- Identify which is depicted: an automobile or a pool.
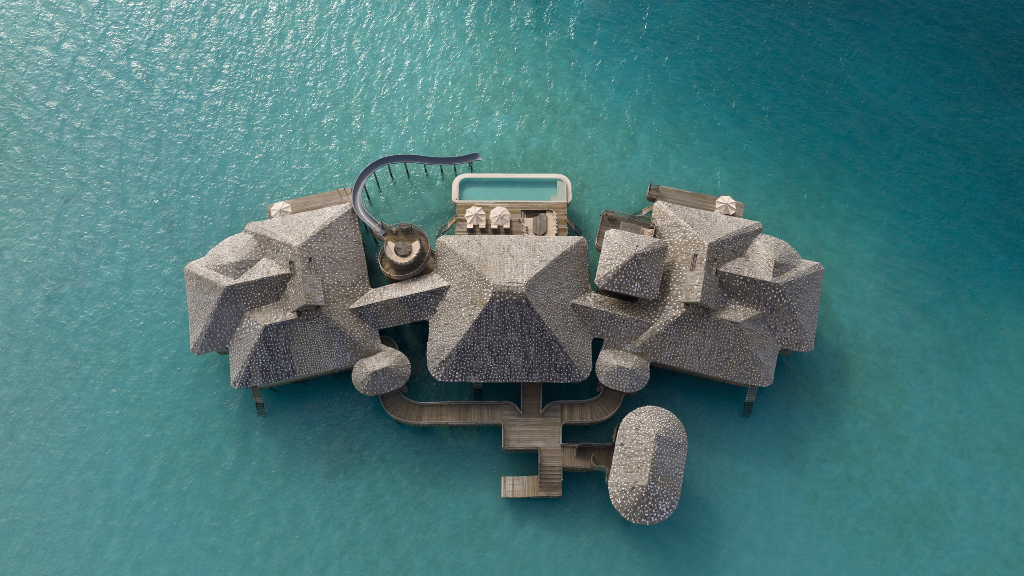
pool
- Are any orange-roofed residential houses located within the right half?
No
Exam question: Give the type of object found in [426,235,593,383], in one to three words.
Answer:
building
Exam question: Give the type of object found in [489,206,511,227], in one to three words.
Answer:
umbrella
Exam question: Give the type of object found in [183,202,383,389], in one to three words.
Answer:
house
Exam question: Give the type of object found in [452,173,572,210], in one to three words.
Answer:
swimming pool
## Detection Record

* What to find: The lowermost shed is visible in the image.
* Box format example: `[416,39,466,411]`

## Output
[608,406,689,526]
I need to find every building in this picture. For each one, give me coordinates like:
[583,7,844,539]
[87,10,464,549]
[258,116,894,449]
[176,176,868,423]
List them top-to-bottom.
[628,200,826,388]
[183,202,383,389]
[426,235,593,383]
[608,406,689,526]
